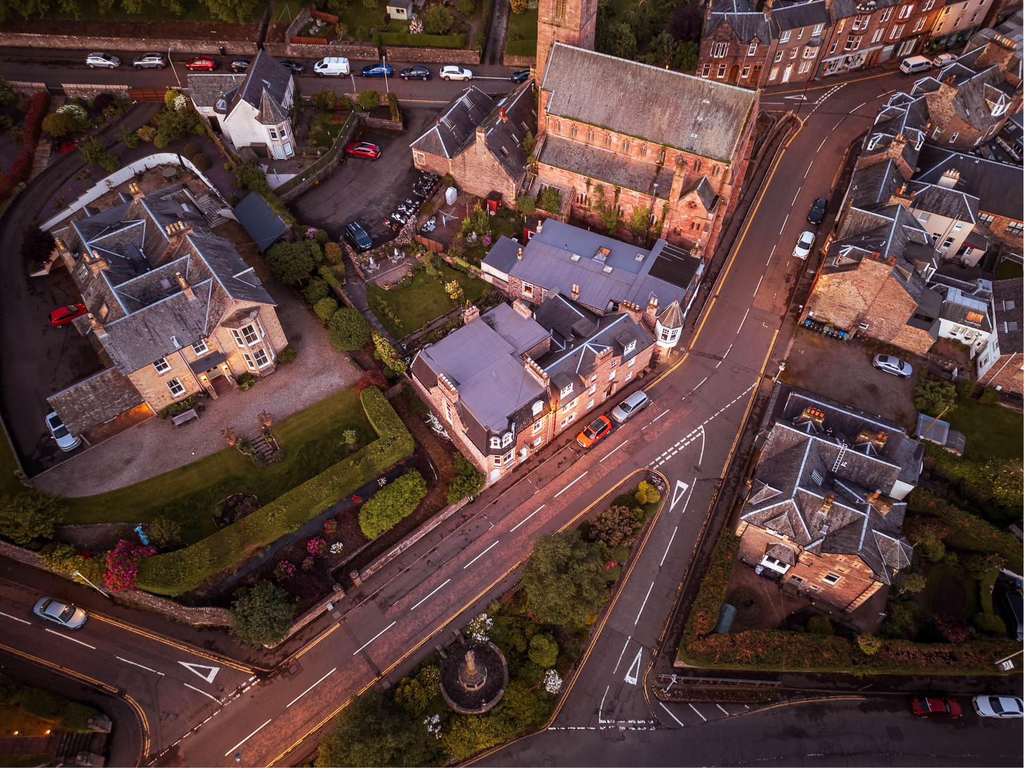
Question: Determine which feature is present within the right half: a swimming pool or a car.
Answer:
car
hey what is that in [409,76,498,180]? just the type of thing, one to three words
building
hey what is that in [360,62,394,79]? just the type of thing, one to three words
car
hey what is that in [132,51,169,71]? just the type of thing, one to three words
car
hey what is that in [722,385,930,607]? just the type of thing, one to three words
house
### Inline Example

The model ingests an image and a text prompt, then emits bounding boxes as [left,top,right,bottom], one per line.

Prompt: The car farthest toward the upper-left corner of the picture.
[84,51,122,70]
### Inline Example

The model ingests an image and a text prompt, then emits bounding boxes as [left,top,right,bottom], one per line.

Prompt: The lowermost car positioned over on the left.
[30,593,91,632]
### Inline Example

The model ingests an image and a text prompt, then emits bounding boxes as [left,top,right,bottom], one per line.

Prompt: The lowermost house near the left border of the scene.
[46,172,287,447]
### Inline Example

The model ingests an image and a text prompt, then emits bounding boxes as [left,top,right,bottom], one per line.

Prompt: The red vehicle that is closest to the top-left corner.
[185,55,219,72]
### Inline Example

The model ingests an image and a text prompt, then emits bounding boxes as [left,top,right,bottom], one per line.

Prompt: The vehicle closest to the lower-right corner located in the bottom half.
[968,691,1024,721]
